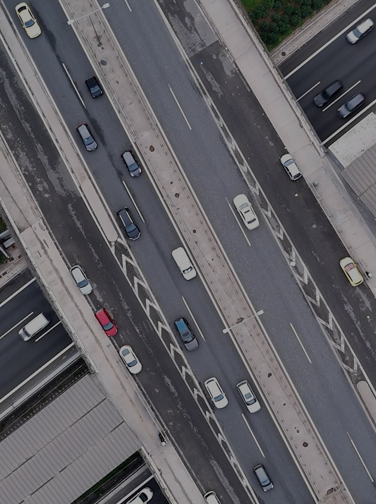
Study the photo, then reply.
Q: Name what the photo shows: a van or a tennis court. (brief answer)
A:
van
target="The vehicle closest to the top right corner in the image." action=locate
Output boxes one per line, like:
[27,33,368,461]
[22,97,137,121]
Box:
[345,17,376,46]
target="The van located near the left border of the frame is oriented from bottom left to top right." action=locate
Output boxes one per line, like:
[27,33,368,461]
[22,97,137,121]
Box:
[17,311,53,343]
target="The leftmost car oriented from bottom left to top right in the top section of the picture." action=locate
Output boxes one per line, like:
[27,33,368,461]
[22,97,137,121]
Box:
[311,76,347,110]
